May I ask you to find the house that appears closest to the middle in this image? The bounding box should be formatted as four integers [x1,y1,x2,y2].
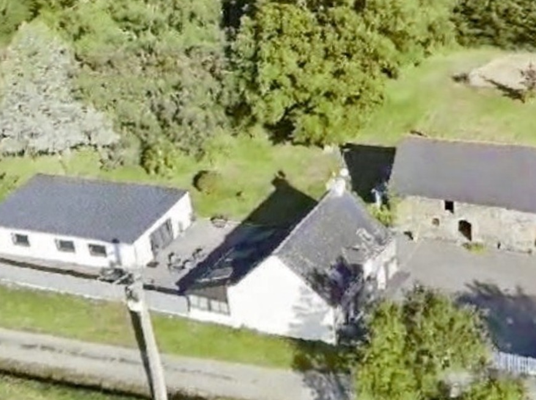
[182,157,402,344]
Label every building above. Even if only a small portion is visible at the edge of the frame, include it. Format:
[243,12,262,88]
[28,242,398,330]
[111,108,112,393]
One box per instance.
[396,133,536,256]
[0,171,189,268]
[182,157,402,344]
